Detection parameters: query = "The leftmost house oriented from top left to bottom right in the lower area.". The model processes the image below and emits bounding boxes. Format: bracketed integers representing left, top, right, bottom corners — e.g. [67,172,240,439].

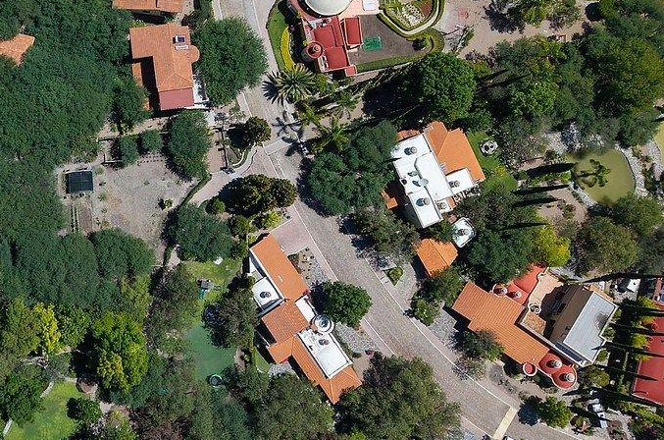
[245,233,358,402]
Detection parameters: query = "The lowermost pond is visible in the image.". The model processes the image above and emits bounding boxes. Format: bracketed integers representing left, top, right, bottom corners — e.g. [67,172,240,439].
[566,148,634,204]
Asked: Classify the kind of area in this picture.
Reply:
residential area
